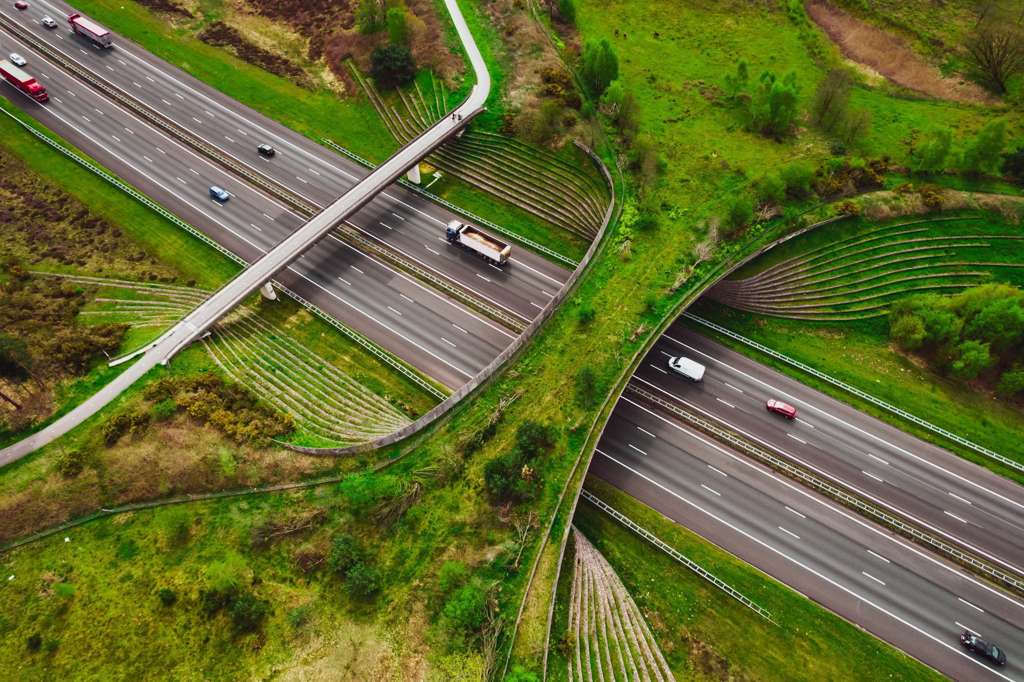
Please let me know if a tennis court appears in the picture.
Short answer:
No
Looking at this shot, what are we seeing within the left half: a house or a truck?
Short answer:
truck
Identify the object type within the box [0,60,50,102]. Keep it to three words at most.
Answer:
truck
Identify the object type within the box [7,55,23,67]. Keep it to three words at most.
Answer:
vehicle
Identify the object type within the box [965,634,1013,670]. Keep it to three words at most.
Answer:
car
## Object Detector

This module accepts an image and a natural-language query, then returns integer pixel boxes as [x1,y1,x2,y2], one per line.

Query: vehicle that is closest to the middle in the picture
[445,220,510,264]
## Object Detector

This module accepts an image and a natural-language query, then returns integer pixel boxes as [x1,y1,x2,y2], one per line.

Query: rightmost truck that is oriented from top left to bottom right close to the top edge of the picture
[68,15,115,48]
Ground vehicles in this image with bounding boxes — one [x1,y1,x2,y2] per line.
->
[965,634,1013,670]
[41,18,56,27]
[15,1,28,10]
[7,55,23,67]
[445,220,510,264]
[257,145,275,157]
[68,15,115,48]
[0,60,50,102]
[209,187,230,203]
[767,402,797,422]
[672,360,710,384]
